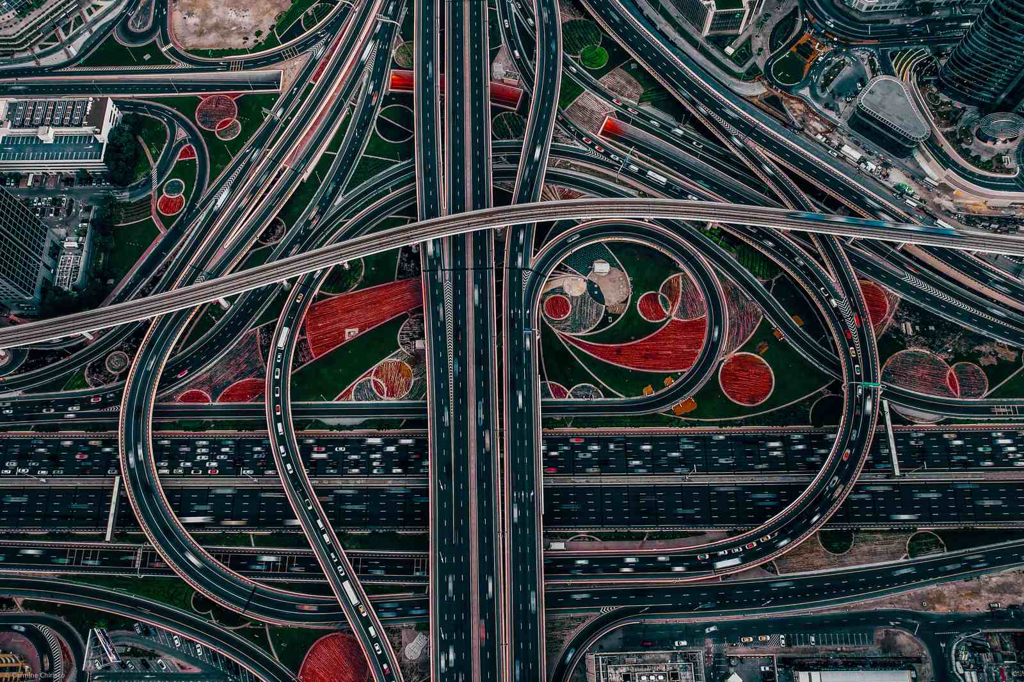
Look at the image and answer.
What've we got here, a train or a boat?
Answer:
train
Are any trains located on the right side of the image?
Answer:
Yes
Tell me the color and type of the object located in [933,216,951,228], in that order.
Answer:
white vehicle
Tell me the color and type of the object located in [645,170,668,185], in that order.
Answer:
white vehicle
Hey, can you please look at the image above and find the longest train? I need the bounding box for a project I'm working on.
[788,210,951,236]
